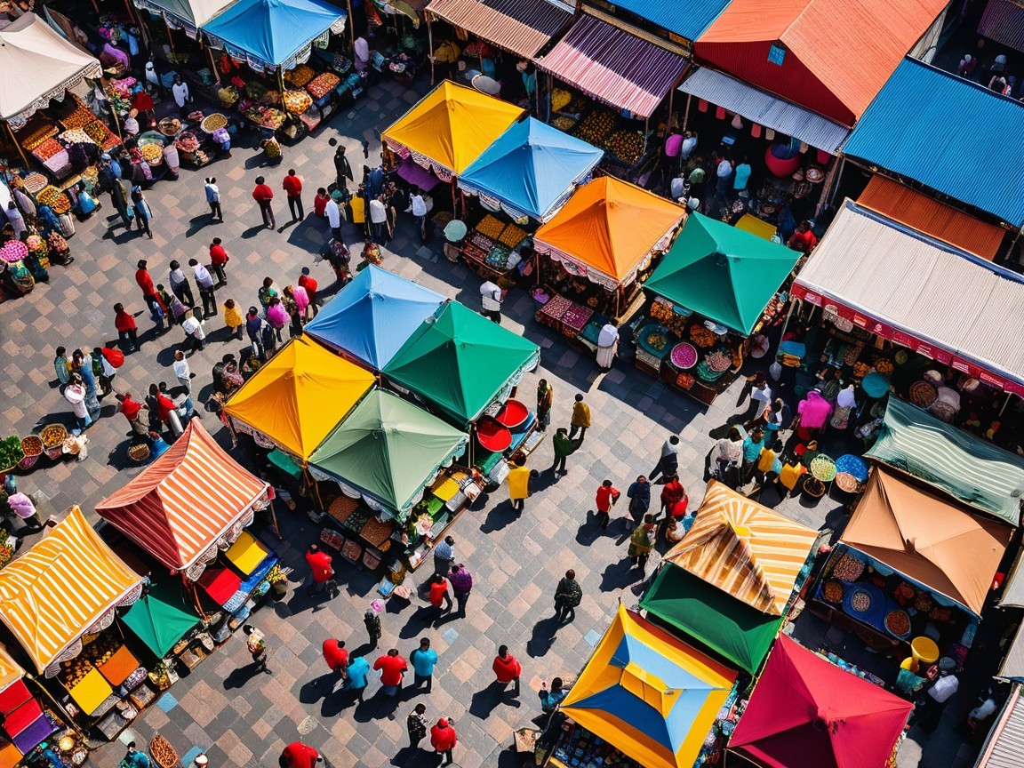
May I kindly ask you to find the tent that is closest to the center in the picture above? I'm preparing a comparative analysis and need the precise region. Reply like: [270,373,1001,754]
[381,300,541,475]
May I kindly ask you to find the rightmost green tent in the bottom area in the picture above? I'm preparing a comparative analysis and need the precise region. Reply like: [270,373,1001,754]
[639,564,777,719]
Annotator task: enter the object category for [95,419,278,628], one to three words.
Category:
tent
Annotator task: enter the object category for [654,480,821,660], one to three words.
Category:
tent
